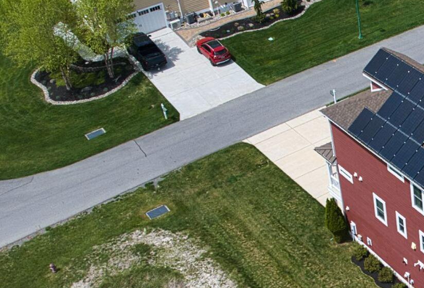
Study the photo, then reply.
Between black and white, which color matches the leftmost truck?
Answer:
black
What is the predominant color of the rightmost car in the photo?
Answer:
red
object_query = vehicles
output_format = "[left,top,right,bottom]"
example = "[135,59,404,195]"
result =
[196,33,229,61]
[125,31,164,65]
